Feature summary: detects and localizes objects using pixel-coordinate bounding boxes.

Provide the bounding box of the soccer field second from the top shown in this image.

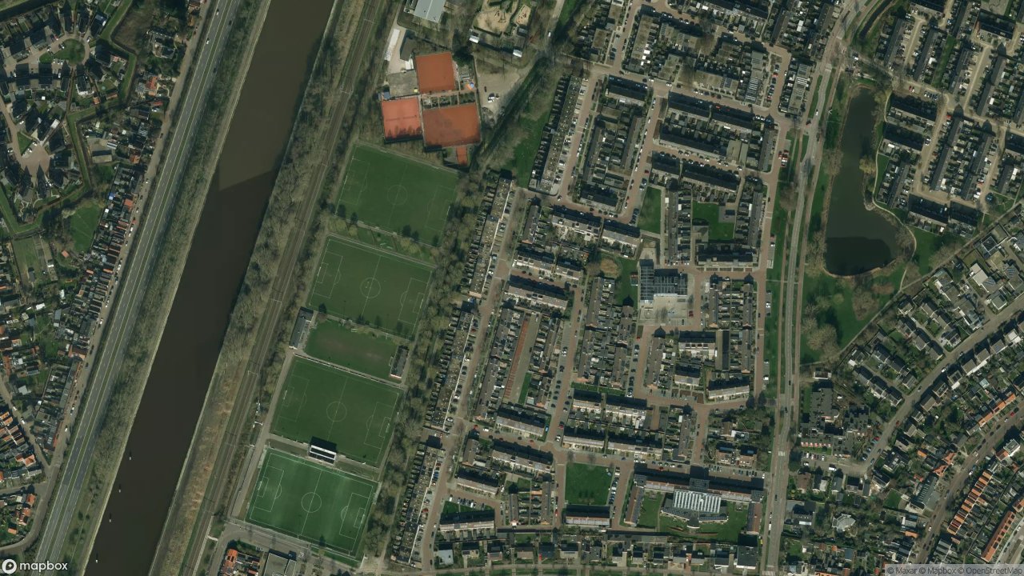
[307,238,434,335]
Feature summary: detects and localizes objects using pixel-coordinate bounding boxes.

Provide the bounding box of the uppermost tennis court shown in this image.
[415,52,454,93]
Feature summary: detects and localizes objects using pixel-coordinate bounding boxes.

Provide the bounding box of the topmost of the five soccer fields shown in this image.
[334,143,459,248]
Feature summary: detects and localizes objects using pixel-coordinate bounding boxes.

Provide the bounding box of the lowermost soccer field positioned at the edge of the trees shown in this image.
[244,447,379,555]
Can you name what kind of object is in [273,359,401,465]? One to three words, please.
soccer field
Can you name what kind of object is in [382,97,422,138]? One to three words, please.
tennis court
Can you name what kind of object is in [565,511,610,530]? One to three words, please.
building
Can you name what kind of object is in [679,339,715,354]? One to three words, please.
house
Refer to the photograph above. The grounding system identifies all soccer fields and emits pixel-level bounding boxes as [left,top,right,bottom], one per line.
[244,447,379,555]
[273,359,401,465]
[334,143,459,248]
[304,319,399,377]
[307,238,434,335]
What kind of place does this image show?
residential area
